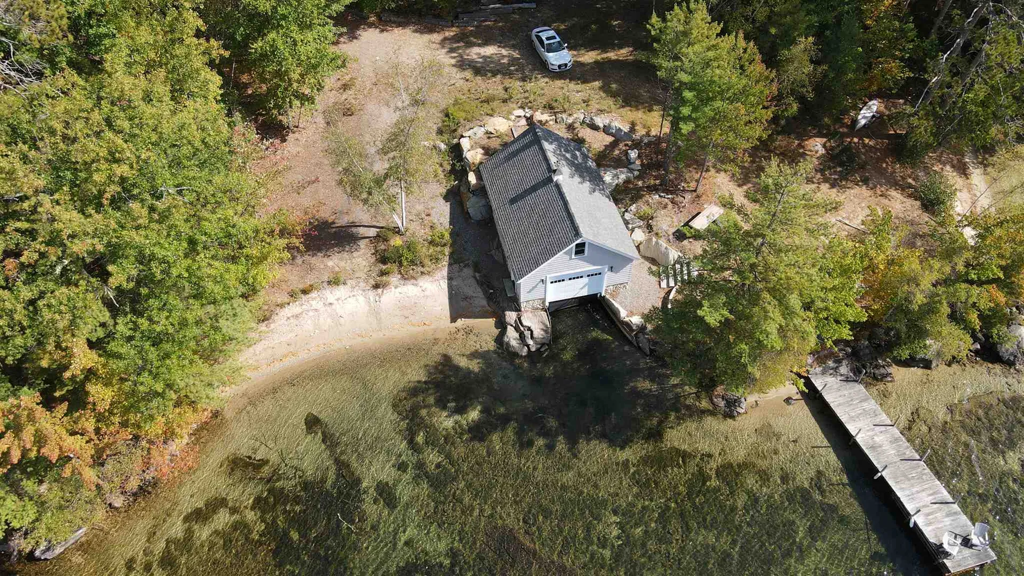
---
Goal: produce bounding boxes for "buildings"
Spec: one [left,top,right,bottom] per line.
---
[479,125,641,310]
